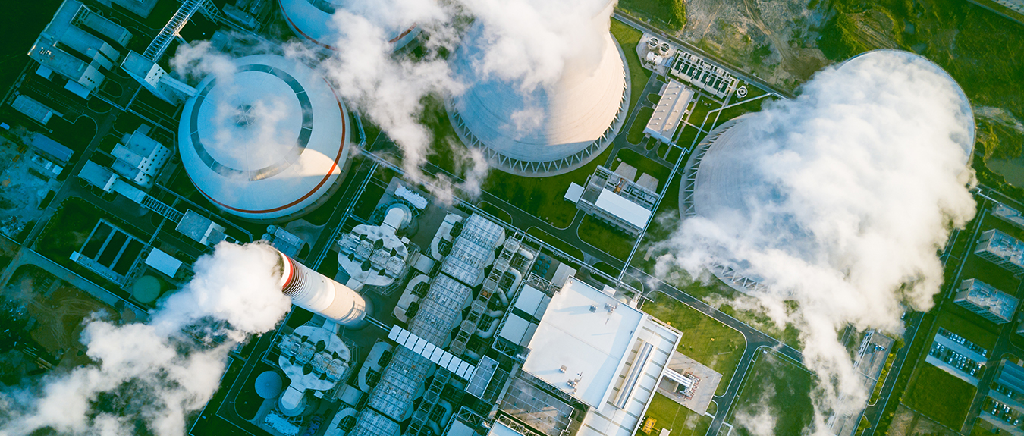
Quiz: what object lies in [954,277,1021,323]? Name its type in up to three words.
building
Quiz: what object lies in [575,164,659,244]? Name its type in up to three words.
building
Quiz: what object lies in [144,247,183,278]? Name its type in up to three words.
shed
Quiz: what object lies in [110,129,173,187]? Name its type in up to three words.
house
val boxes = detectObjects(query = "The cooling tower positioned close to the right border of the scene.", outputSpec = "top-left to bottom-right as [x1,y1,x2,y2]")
[674,49,975,304]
